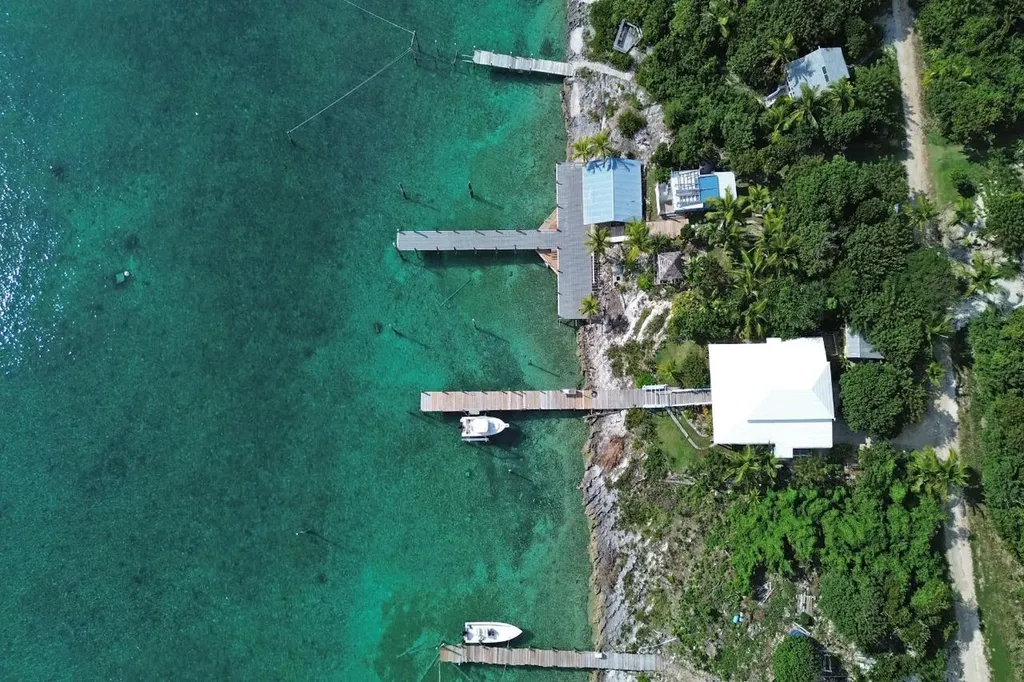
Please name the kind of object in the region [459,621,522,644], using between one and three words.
boat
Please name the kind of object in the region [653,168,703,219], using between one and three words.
building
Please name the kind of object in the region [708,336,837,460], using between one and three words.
house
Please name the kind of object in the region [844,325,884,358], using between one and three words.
shed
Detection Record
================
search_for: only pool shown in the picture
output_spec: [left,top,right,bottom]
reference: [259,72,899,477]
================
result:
[696,172,737,215]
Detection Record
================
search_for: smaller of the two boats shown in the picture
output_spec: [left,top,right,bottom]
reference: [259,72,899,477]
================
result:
[457,416,509,436]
